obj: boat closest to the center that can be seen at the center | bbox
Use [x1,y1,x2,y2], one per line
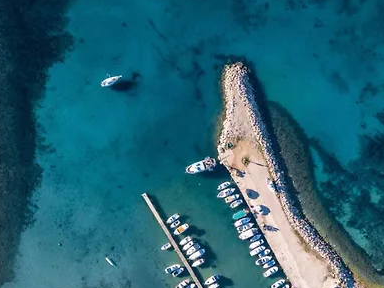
[185,157,219,172]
